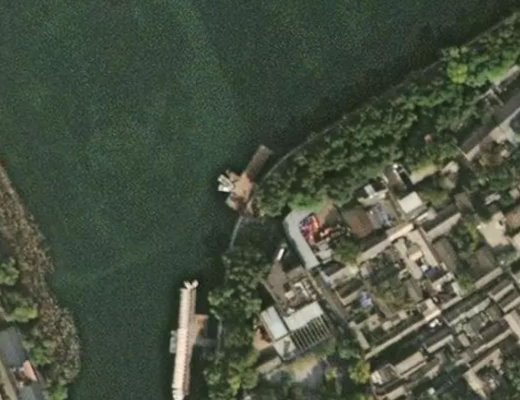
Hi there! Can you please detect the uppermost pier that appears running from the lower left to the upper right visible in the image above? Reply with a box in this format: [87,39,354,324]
[245,145,273,178]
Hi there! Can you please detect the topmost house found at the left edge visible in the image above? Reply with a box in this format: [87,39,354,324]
[0,325,32,365]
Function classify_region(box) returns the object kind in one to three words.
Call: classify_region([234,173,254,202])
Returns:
pier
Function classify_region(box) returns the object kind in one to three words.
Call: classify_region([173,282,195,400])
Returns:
boat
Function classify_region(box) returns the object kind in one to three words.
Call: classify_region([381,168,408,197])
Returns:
house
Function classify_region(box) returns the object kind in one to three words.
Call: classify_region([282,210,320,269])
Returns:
building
